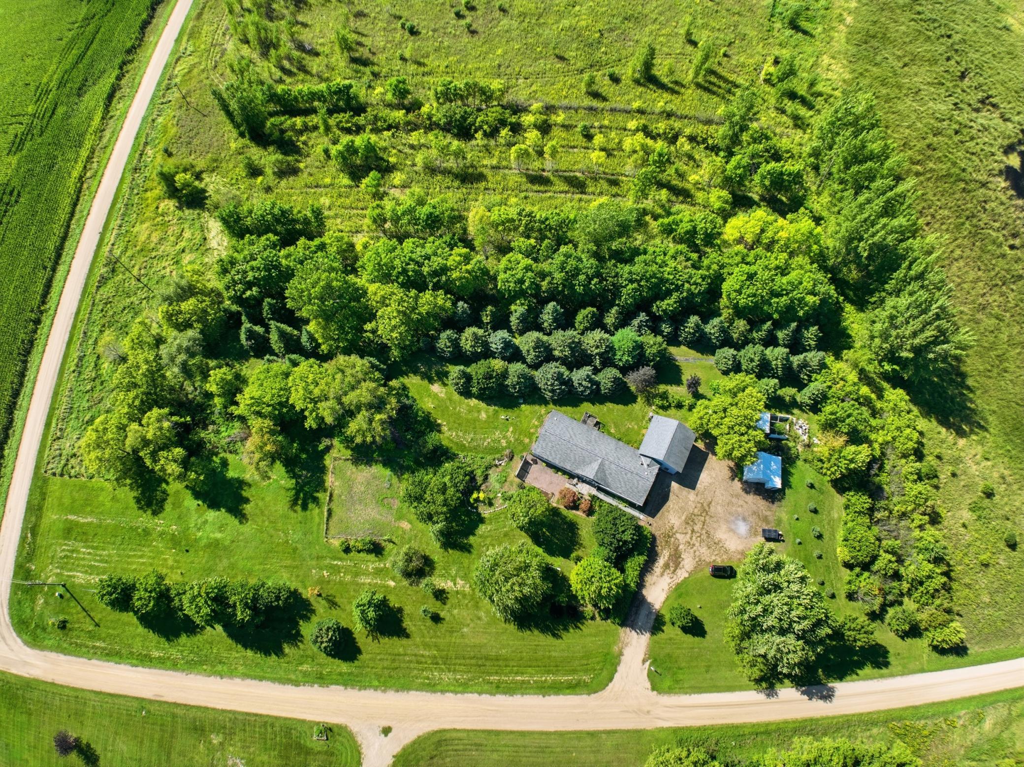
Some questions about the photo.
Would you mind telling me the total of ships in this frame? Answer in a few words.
0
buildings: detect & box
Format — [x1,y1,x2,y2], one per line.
[738,451,781,492]
[758,412,789,441]
[532,411,661,506]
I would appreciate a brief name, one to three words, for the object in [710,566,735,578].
vehicle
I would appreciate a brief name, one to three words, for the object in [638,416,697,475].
building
